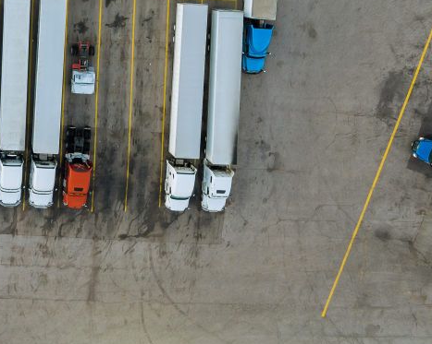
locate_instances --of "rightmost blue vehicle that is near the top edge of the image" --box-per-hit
[241,0,274,73]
